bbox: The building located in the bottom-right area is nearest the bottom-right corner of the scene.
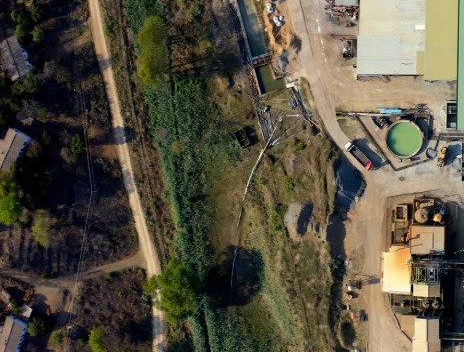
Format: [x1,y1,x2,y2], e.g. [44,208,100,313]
[413,316,442,352]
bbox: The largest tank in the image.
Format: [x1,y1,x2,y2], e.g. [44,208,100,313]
[383,120,427,160]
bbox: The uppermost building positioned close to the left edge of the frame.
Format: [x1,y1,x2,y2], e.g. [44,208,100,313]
[0,36,36,81]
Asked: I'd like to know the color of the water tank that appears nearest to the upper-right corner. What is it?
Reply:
green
